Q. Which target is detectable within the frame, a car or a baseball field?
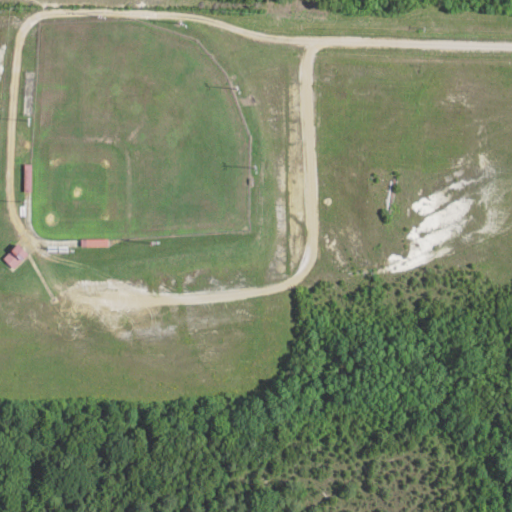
baseball field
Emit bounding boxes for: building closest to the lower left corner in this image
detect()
[4,244,31,272]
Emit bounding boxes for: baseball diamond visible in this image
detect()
[32,19,250,242]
